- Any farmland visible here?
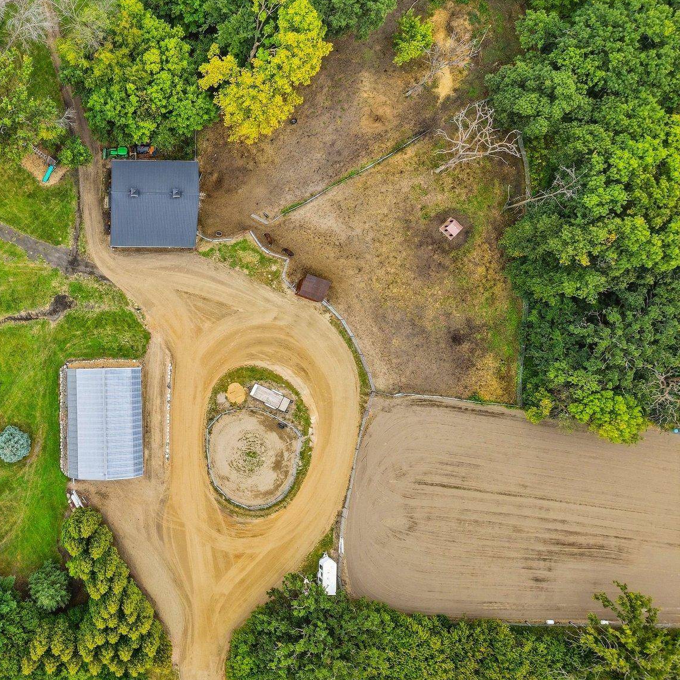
Yes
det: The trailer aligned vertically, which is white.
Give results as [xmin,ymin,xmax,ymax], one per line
[318,549,336,595]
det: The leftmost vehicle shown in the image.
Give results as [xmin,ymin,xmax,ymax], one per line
[102,147,127,160]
